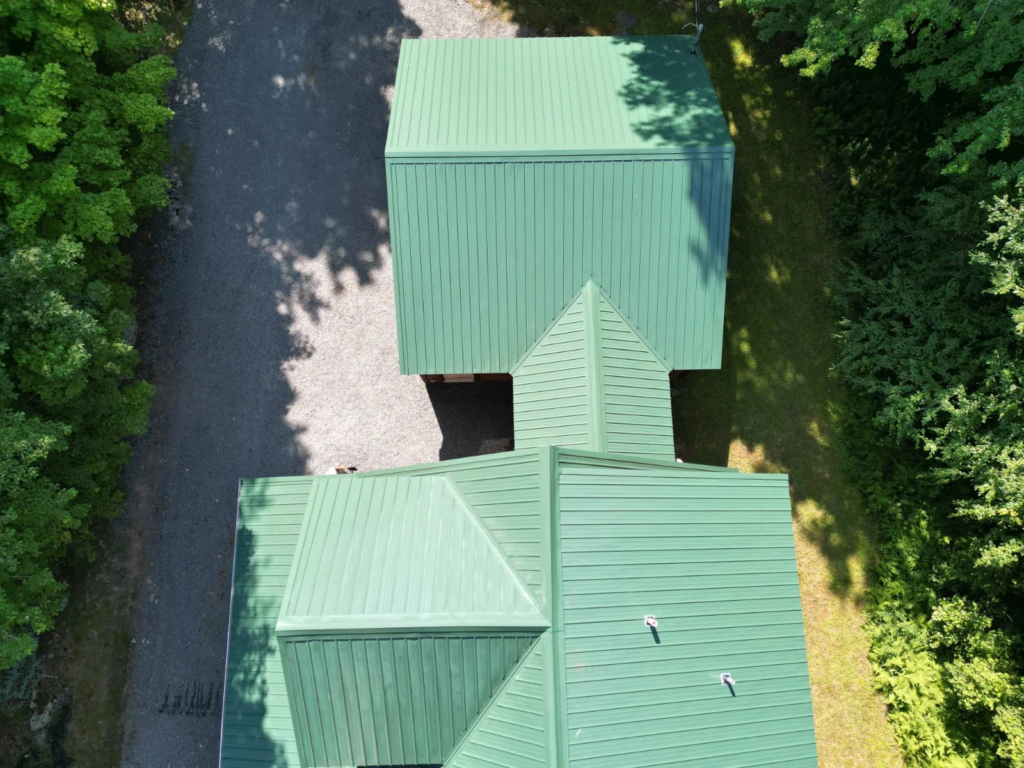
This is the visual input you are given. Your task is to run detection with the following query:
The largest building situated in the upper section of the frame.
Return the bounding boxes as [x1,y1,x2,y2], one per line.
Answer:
[385,37,736,385]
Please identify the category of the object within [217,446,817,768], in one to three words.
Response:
house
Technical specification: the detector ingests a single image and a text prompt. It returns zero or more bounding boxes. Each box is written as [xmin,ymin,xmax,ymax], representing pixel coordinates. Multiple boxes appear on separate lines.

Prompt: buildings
[217,446,817,768]
[385,37,736,385]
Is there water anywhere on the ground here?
No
